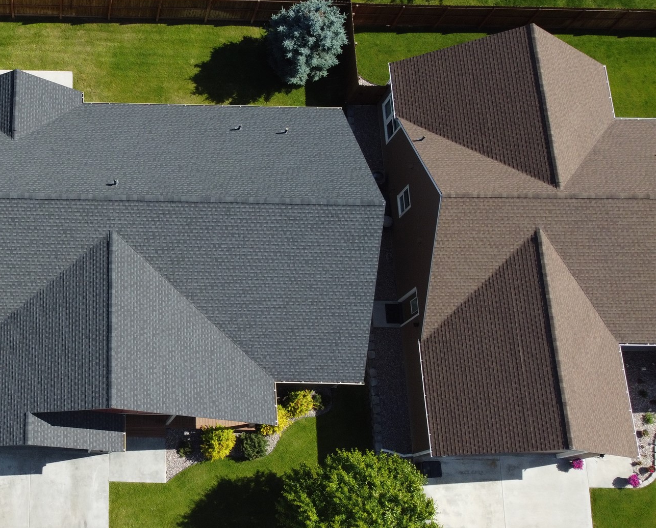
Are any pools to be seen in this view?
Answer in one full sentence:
No, this view has no pool in it.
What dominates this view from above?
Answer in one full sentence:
The scene is dominated by buildings.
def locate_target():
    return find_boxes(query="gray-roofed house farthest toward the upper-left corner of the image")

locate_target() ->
[0,69,380,455]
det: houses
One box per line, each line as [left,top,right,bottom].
[379,21,656,462]
[0,69,380,455]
